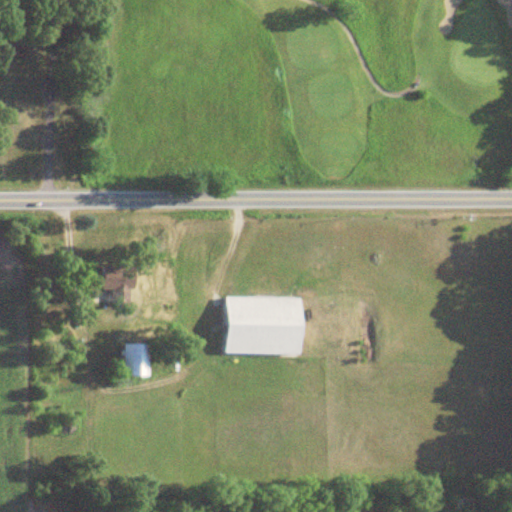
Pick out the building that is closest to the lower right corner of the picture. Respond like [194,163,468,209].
[224,296,305,357]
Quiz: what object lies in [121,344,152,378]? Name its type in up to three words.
shed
